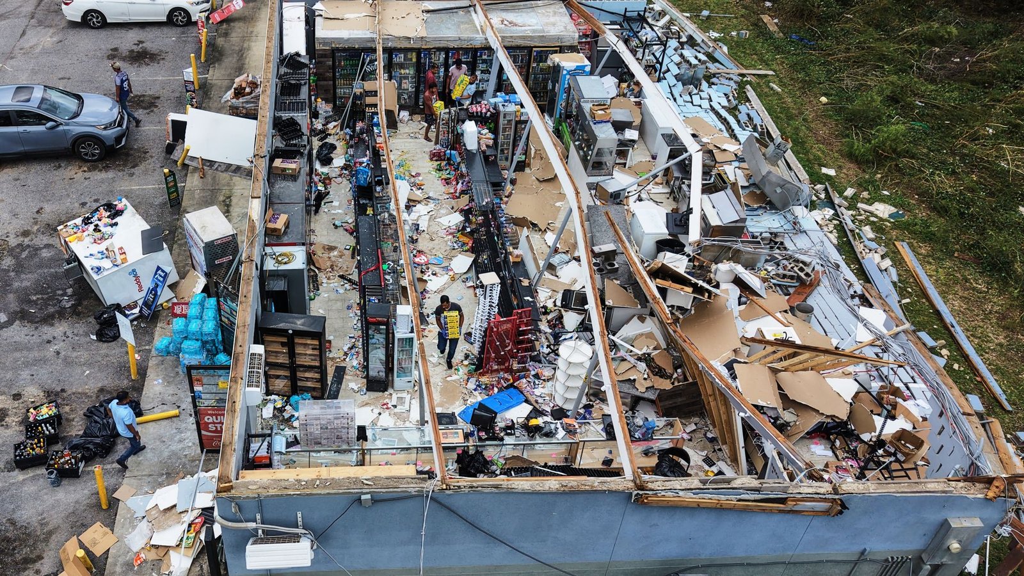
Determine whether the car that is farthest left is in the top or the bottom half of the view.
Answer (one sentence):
The car that is farthest left sits in the top half of the picture.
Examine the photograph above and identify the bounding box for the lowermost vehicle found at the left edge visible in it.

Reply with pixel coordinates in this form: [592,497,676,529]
[0,79,128,162]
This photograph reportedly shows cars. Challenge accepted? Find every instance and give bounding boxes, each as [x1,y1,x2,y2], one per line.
[0,79,128,162]
[55,0,209,28]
